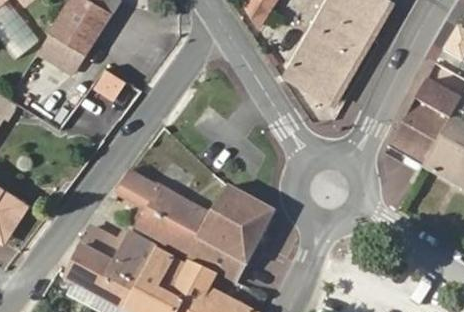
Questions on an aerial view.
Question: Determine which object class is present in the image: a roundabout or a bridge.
roundabout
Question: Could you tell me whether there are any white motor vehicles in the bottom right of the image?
Yes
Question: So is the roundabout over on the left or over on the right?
right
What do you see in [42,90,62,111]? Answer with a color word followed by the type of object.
white car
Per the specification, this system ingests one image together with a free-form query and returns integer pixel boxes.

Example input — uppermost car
[282,28,302,52]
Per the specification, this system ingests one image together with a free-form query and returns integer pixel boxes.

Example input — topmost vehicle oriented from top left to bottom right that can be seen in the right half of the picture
[416,228,437,246]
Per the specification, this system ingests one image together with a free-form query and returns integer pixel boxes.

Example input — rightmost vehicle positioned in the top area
[390,48,407,70]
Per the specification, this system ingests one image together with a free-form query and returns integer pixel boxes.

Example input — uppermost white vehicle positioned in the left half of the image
[72,80,90,96]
